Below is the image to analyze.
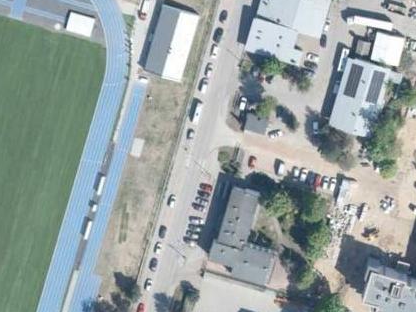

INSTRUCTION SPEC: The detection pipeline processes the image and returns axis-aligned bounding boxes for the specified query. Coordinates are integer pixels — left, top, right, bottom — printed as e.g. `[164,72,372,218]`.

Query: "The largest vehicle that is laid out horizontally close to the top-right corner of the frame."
[347,15,393,33]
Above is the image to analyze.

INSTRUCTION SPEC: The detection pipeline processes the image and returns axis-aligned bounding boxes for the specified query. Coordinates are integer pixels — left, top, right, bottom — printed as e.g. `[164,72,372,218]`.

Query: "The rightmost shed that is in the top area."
[370,29,407,67]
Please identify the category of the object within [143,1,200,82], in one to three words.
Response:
building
